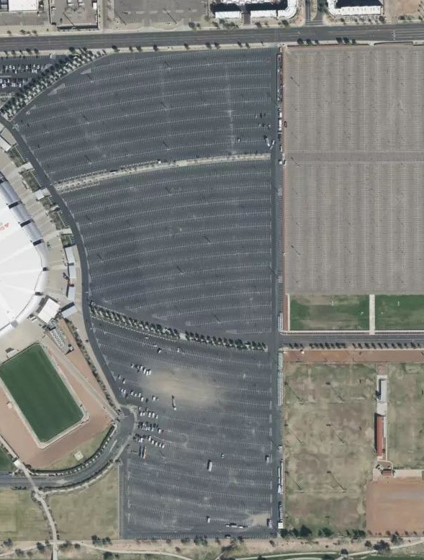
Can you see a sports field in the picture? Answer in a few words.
Yes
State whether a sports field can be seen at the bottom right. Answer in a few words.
Yes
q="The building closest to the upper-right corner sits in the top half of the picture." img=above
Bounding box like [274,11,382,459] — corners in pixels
[327,0,382,16]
